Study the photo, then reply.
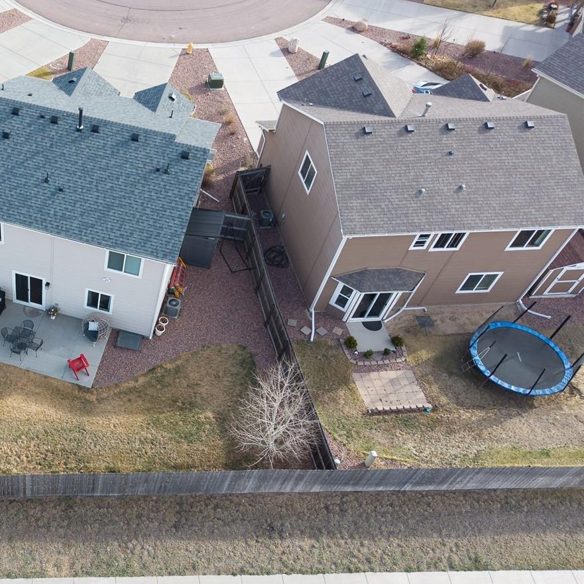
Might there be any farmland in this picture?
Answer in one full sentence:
No, there's no farmland in this view.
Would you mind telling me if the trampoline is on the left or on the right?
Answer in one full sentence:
It is on the right.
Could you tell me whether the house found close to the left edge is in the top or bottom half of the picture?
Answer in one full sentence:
The house found close to the left edge is in the top half of the image.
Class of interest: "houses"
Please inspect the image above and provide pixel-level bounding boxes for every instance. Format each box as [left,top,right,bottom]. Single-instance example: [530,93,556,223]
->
[245,53,584,333]
[0,65,226,339]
